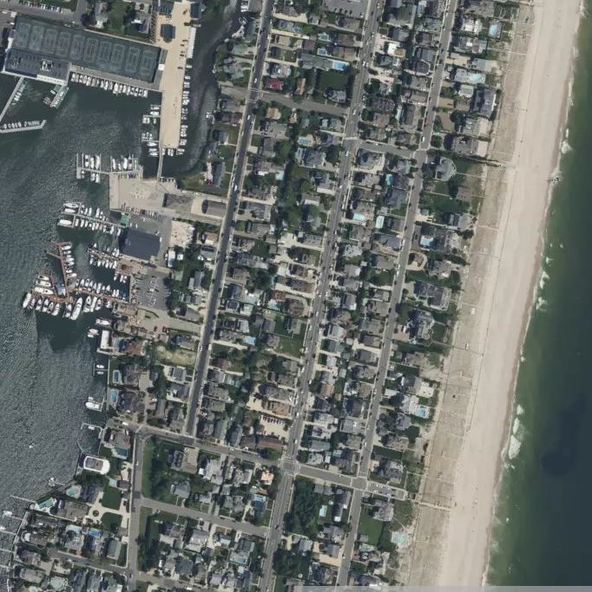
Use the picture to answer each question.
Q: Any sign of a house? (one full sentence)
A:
Yes, I can see a house in this picture.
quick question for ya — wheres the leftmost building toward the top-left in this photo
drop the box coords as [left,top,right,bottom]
[2,44,70,84]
